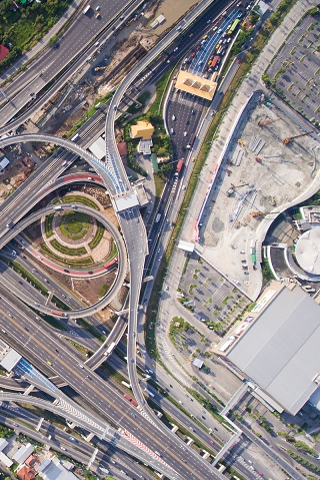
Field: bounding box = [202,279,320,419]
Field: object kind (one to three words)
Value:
building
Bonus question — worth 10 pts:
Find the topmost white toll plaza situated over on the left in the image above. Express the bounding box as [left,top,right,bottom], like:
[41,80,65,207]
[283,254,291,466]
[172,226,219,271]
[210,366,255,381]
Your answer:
[111,191,140,214]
